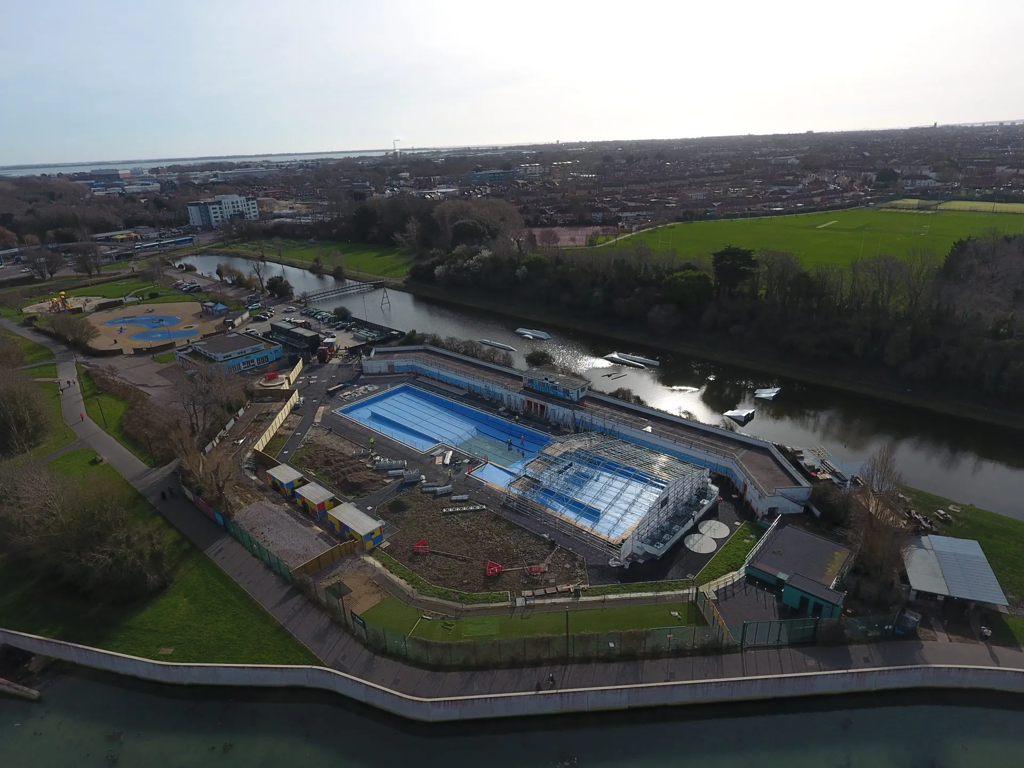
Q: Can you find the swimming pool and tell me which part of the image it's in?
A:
center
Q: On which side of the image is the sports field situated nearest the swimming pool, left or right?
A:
right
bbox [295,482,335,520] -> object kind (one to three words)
building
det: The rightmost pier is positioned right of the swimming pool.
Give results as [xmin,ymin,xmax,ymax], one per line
[798,447,865,489]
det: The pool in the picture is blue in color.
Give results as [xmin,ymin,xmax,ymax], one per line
[326,380,678,542]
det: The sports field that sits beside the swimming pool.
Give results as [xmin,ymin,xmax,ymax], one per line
[549,207,1024,308]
